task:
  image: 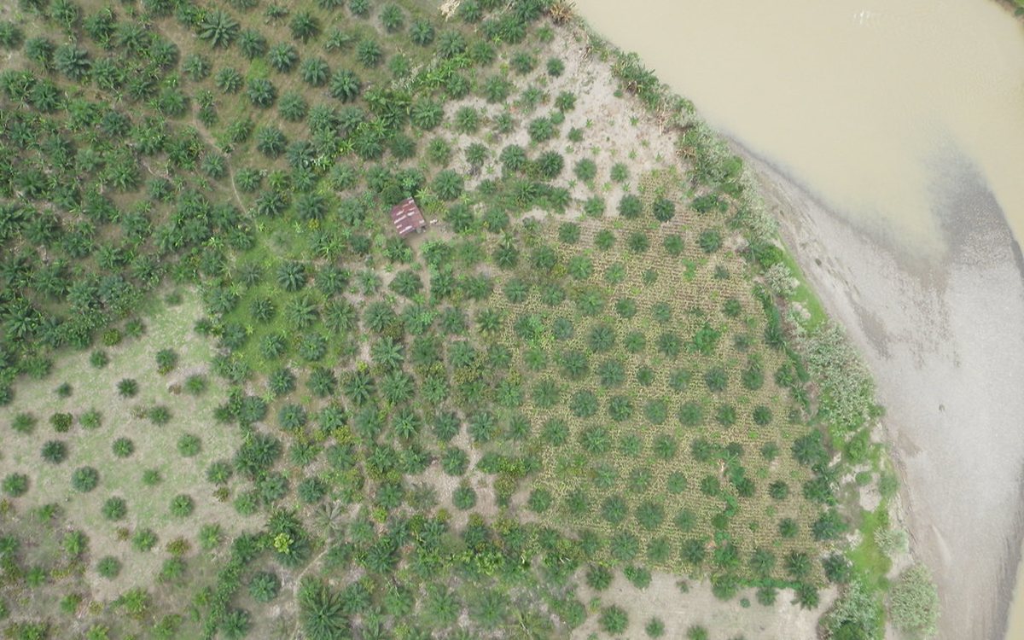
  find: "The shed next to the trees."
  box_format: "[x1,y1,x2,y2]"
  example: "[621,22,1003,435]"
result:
[390,197,427,237]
